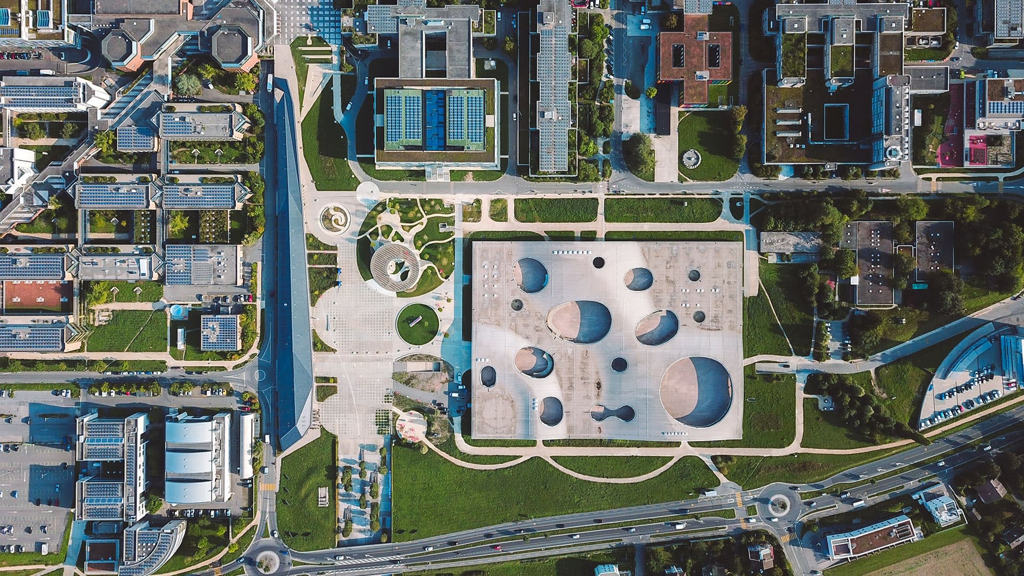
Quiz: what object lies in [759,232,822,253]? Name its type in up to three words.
building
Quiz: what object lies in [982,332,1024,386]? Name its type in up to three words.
building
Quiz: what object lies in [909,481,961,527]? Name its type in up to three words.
house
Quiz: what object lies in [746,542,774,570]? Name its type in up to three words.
house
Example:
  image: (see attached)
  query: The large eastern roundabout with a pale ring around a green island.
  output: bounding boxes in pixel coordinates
[758,483,801,527]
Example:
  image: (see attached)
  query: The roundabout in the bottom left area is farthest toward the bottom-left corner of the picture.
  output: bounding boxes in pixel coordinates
[245,540,291,576]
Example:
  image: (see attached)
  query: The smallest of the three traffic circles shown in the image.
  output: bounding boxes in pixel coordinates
[244,360,275,391]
